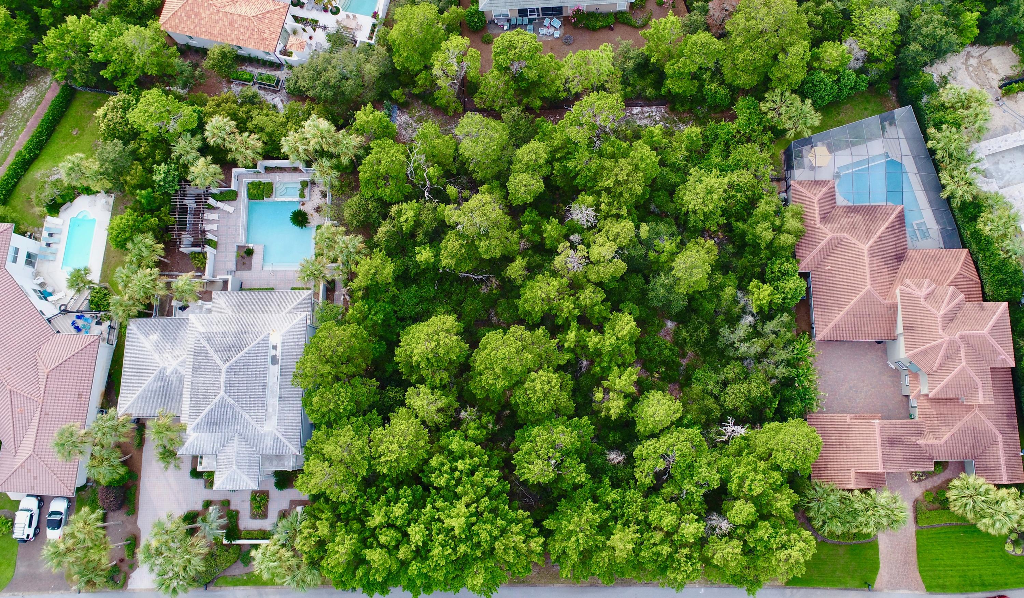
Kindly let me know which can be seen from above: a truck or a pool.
pool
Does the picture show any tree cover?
Yes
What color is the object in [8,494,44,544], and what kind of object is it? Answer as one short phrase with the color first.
white car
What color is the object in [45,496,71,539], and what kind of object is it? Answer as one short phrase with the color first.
white car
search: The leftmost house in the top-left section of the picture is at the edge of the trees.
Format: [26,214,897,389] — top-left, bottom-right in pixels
[159,0,296,59]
